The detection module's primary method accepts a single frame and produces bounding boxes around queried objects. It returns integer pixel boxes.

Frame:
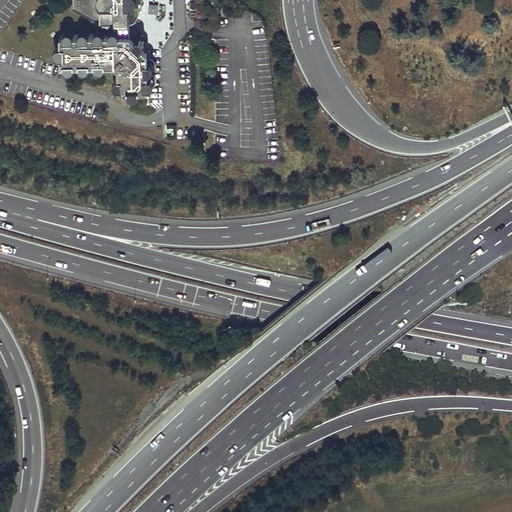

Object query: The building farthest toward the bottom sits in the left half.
[51,36,153,106]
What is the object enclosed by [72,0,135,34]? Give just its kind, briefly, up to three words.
building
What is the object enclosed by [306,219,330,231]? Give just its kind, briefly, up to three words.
vehicle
